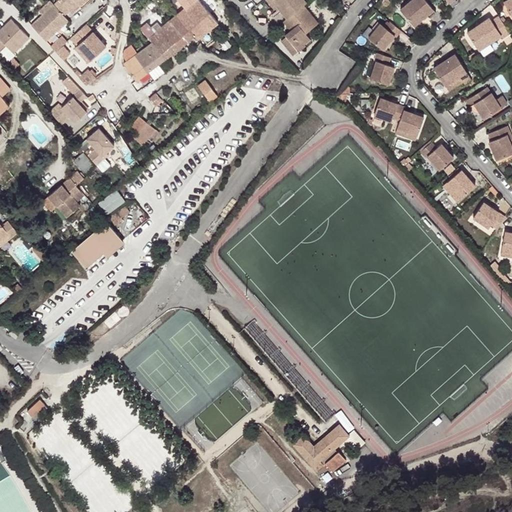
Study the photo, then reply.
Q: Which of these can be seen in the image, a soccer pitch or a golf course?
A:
soccer pitch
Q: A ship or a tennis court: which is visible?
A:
tennis court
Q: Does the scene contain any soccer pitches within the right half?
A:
Yes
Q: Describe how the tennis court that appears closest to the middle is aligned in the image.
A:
at an angle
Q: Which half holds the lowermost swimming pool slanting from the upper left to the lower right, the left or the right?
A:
left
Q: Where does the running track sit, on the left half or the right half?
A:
right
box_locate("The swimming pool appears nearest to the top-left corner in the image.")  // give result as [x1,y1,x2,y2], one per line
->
[33,68,52,87]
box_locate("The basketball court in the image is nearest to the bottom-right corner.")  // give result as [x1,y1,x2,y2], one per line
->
[230,442,299,512]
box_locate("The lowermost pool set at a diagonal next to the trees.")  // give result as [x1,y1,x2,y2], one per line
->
[13,245,38,270]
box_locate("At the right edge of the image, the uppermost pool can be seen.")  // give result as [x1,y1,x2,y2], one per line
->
[496,74,511,94]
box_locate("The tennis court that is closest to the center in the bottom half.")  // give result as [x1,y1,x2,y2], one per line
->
[170,322,229,383]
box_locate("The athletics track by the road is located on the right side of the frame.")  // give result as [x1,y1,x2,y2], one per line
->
[210,124,512,464]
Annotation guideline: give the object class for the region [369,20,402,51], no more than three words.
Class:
house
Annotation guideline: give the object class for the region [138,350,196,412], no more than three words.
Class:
tennis court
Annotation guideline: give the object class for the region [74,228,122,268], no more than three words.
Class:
building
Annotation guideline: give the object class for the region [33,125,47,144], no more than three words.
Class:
swimming pool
